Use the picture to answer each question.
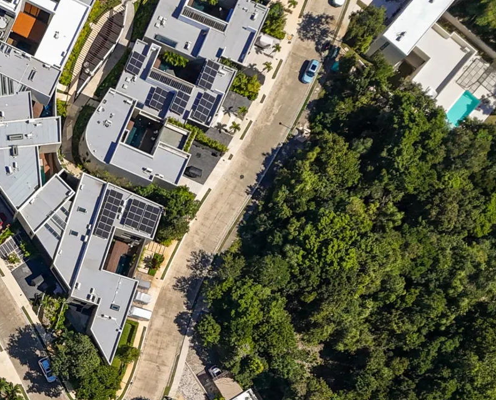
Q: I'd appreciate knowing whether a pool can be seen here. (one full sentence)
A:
Yes, there's a pool down there.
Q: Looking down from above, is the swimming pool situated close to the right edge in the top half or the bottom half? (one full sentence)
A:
You can find the swimming pool situated close to the right edge in the top half.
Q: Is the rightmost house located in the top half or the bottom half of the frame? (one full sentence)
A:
The rightmost house is in the top half of the image.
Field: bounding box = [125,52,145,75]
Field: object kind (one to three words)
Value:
solar array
